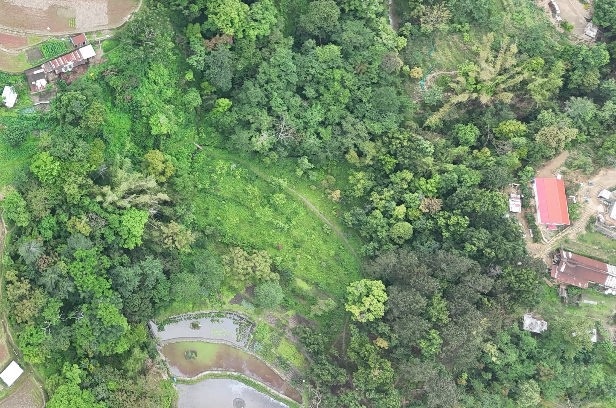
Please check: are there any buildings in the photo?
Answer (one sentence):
Yes, you can see a building in this photo.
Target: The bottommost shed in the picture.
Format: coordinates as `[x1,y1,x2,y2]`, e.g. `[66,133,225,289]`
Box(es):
[0,361,24,386]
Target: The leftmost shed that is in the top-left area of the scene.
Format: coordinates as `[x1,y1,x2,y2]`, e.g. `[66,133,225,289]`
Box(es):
[1,85,17,113]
